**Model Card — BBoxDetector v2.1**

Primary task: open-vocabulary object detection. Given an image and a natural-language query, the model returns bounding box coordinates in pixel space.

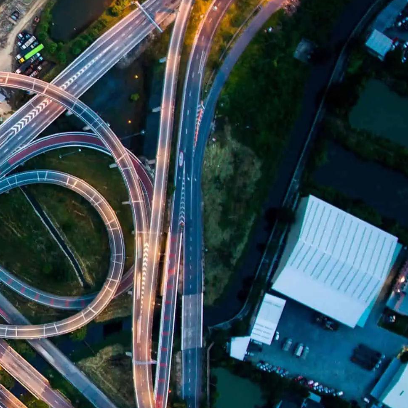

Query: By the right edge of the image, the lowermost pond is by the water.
[316,153,408,237]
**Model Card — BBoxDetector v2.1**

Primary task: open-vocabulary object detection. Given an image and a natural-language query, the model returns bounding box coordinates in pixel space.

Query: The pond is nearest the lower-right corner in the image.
[215,366,265,408]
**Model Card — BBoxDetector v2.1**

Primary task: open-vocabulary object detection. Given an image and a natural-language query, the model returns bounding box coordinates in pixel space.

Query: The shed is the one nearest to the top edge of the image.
[368,0,408,32]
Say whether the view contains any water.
Yes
